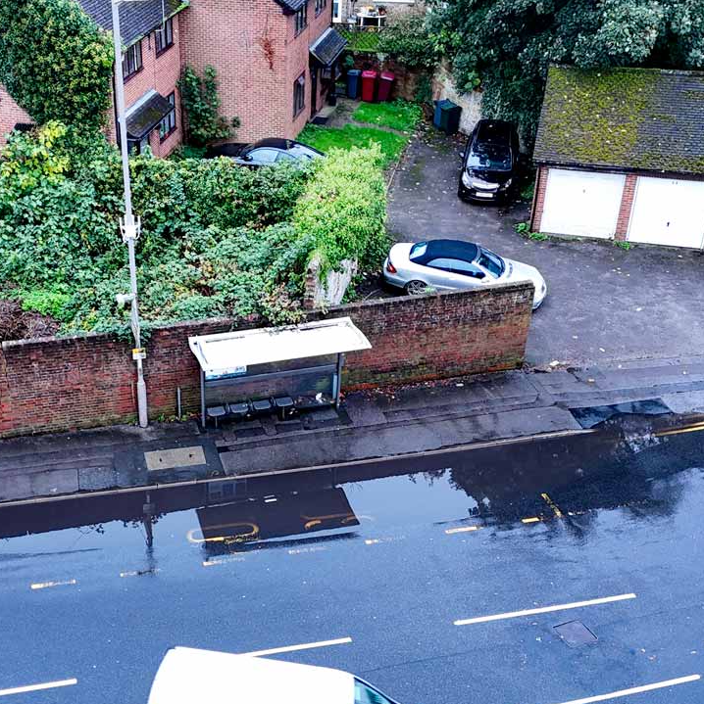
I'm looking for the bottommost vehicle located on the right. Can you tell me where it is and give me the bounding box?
[382,235,549,301]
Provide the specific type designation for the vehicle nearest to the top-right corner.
automobile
